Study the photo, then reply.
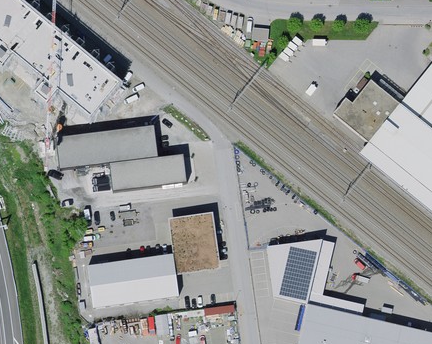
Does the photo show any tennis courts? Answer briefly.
No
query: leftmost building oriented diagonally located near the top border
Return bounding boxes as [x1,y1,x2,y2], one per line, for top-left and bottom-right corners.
[0,0,122,114]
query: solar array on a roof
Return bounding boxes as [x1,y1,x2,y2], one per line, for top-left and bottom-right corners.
[280,248,316,300]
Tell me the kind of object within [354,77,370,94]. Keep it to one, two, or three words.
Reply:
vehicle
